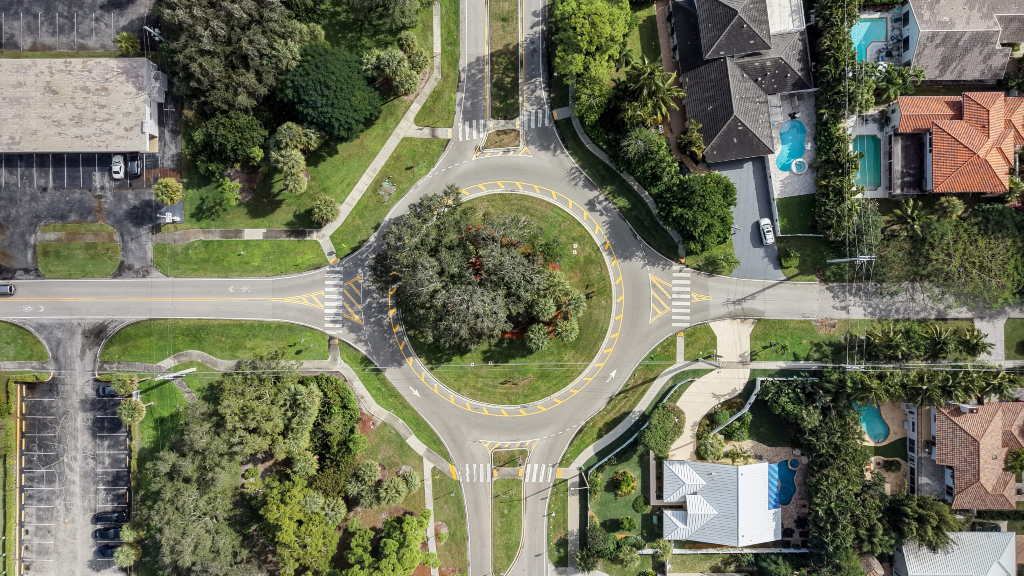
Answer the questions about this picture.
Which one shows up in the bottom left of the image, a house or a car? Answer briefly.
car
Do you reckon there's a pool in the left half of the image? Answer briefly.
No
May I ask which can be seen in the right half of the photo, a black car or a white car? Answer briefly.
white car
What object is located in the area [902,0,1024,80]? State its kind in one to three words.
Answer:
house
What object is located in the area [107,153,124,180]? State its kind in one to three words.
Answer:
car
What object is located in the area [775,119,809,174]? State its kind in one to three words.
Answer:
swimming pool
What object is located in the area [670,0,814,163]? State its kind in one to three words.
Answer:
house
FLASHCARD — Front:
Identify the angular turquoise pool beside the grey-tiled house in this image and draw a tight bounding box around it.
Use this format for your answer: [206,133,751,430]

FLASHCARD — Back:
[846,17,887,64]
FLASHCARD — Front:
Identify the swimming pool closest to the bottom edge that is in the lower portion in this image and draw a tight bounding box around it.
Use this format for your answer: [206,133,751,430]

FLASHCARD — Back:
[777,456,803,507]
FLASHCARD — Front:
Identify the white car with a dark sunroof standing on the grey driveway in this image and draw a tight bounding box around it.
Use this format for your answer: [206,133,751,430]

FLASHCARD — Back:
[758,215,778,246]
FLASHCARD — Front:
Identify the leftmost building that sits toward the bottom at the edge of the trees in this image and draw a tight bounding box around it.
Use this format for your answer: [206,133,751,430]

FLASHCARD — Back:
[662,459,782,547]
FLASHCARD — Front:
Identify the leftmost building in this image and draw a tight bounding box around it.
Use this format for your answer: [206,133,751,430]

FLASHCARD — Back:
[0,57,167,153]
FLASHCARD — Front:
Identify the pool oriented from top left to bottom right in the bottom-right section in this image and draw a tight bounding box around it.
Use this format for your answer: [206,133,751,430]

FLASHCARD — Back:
[852,400,891,444]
